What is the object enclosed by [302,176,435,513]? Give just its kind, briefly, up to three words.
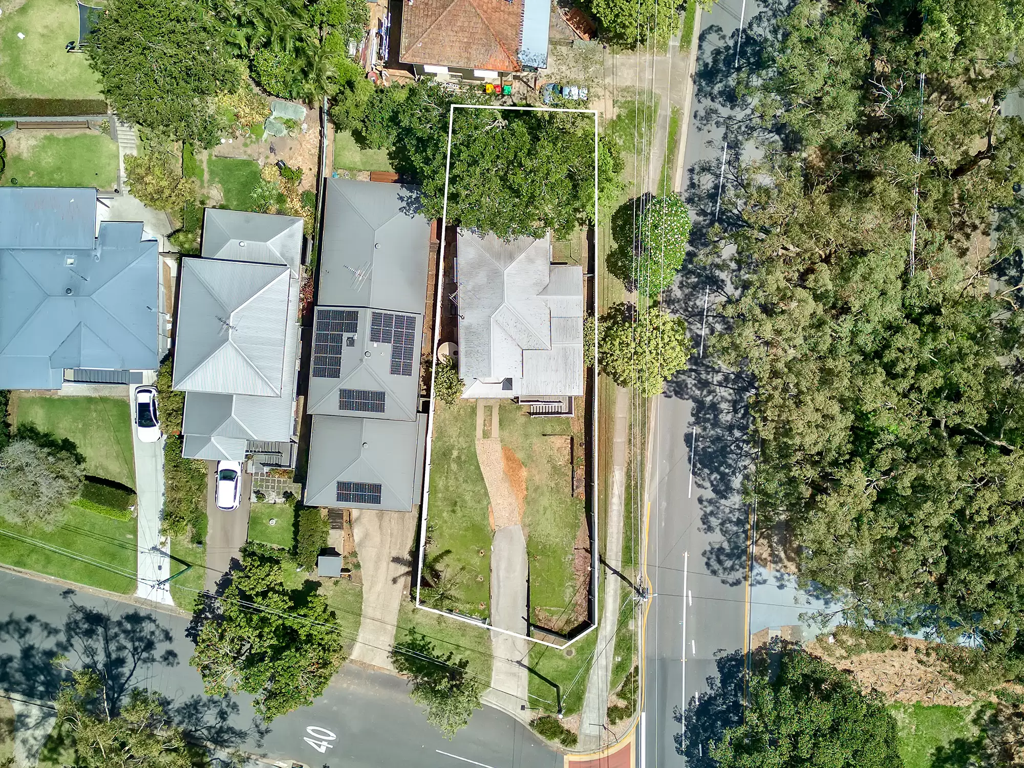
house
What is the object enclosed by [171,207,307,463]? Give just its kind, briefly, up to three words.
house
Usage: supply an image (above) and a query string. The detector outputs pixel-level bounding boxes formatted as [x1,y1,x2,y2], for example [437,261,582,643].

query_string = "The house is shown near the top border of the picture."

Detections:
[398,0,552,85]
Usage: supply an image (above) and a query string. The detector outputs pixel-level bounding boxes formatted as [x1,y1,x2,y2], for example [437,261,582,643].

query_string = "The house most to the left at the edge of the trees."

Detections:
[0,186,170,392]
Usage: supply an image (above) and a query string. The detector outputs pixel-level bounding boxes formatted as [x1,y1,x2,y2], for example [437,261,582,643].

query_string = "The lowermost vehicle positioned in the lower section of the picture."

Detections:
[212,461,245,512]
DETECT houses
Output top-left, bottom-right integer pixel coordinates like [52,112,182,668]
[0,186,170,392]
[302,176,435,513]
[171,207,307,463]
[398,0,552,85]
[455,226,585,401]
